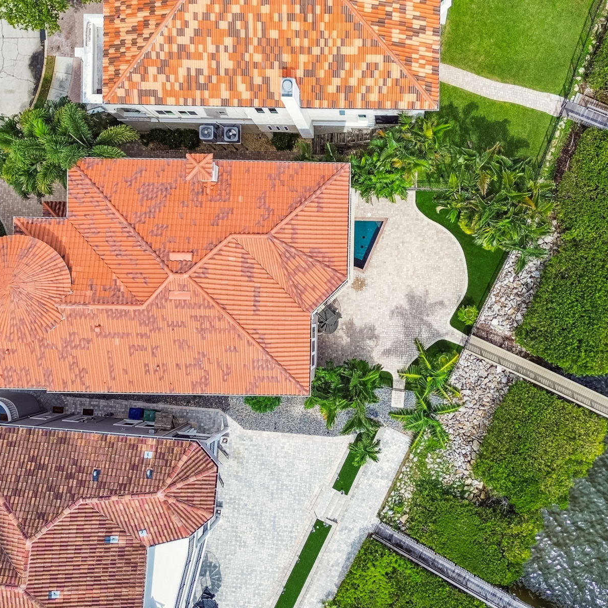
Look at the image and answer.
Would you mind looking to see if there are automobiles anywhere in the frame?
No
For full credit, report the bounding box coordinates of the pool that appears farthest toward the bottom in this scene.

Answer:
[354,217,389,273]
